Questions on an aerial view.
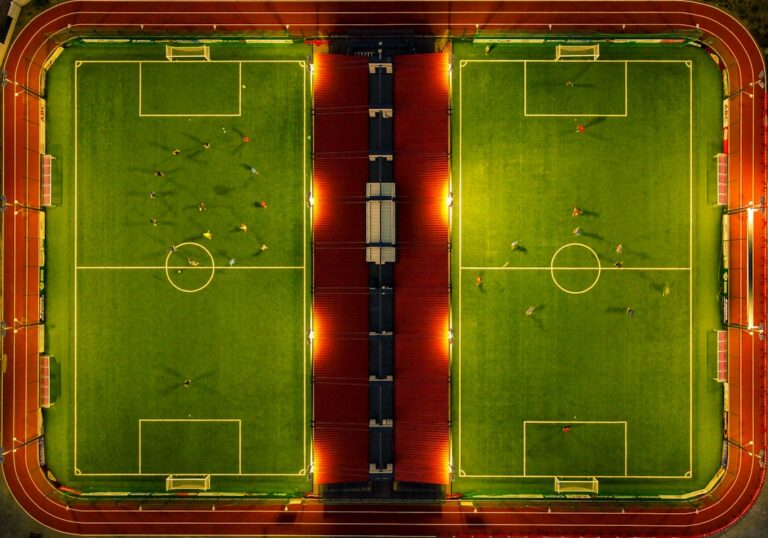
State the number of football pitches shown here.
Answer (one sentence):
The number of football pitches here is 2.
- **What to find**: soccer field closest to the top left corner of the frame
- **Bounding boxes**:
[44,38,313,498]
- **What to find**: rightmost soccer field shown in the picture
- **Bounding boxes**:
[451,38,723,498]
